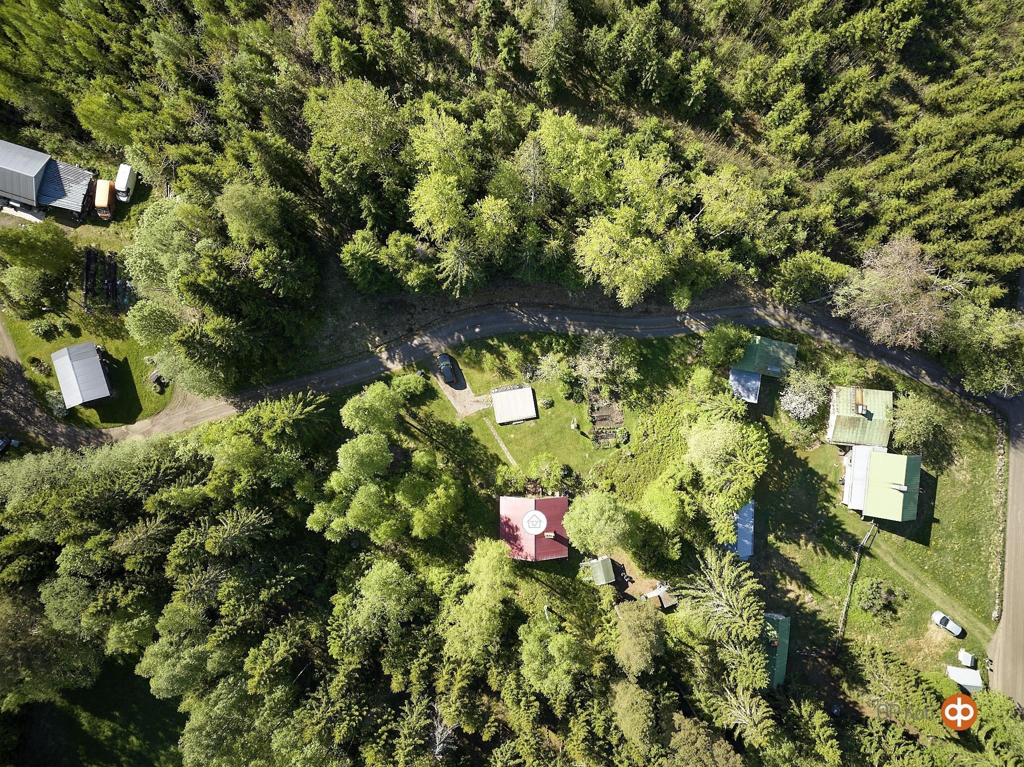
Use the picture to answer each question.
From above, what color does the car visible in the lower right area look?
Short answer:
white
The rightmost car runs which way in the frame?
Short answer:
diagonally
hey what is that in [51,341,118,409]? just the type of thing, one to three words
shed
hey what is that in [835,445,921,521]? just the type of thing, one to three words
house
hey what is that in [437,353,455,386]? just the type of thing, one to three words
car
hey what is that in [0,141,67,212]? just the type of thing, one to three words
barn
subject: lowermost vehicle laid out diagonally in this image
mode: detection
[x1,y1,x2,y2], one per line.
[933,612,964,638]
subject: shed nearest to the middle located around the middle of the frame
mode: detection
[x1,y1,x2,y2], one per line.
[492,387,536,426]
